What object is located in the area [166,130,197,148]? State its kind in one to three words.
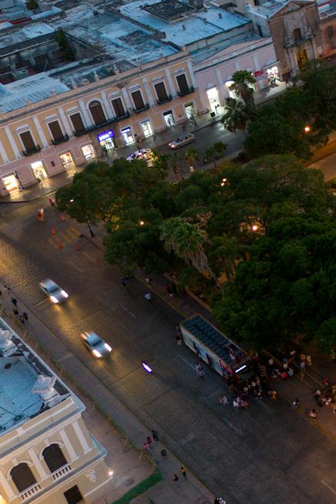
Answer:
car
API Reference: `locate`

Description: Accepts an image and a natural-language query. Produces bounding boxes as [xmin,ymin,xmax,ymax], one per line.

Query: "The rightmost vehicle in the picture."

[184,317,257,389]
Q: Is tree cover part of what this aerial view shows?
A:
Yes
